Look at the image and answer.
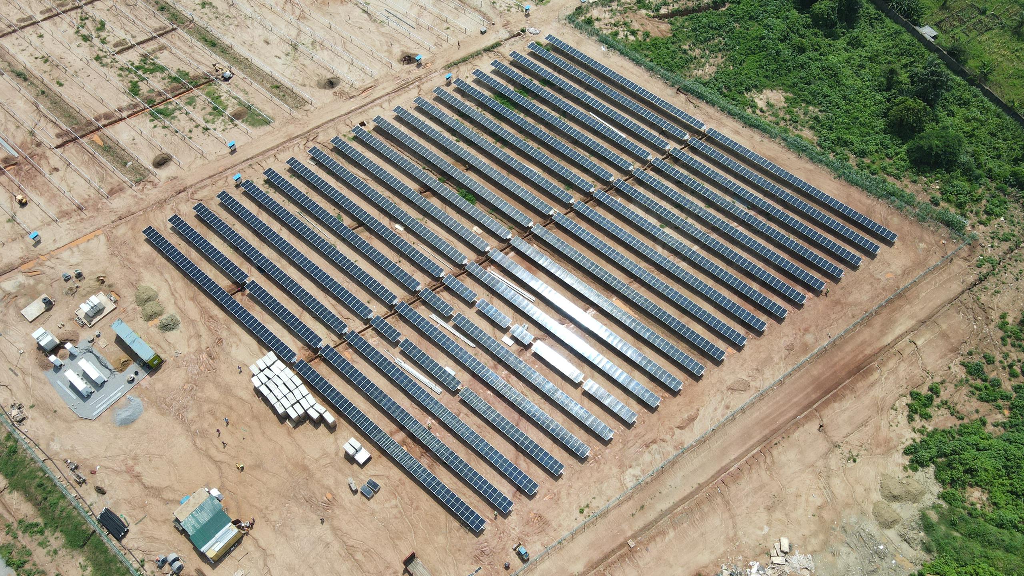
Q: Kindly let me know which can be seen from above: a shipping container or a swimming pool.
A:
shipping container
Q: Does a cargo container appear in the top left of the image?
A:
No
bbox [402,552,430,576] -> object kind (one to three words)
vehicle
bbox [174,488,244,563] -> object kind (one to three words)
shed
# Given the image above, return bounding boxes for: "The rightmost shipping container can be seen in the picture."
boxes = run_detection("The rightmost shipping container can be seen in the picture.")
[111,319,162,367]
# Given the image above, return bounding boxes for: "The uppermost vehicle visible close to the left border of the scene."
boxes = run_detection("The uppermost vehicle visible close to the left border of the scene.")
[13,194,30,208]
